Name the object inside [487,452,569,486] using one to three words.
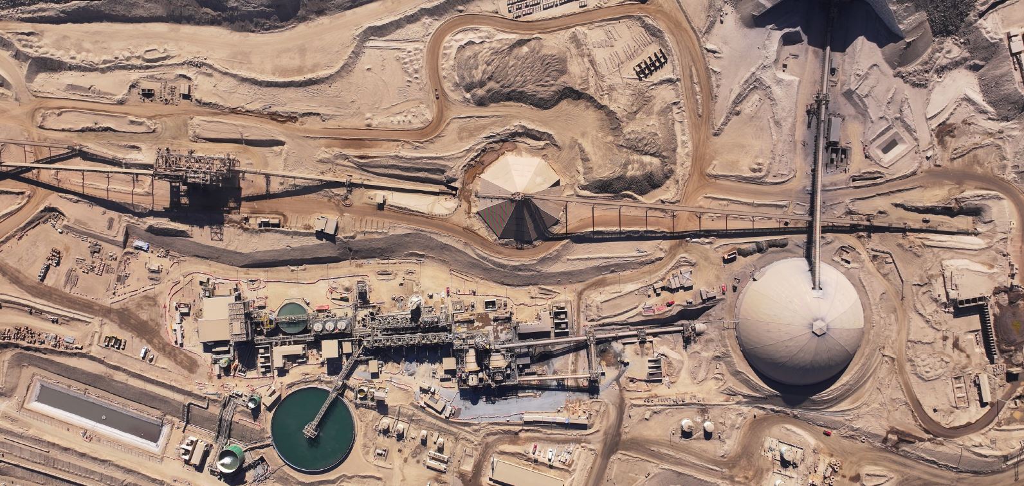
building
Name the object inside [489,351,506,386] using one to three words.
building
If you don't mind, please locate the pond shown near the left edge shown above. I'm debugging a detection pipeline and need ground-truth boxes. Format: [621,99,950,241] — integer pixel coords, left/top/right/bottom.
[20,374,170,460]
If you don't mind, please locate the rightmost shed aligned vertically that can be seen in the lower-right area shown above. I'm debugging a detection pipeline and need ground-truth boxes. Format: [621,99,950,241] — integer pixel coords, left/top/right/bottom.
[974,373,990,402]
